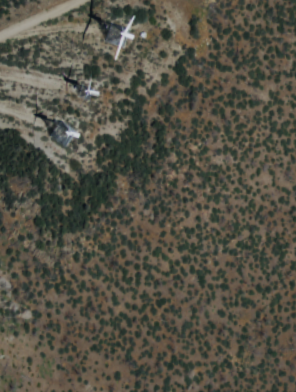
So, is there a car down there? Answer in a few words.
No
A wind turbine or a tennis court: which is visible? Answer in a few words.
wind turbine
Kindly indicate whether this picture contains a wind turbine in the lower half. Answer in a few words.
No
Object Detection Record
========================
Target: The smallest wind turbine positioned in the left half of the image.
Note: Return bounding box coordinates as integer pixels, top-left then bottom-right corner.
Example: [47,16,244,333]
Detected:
[76,76,98,116]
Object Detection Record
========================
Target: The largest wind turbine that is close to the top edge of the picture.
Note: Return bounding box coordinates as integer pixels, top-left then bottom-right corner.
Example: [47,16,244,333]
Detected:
[105,14,135,60]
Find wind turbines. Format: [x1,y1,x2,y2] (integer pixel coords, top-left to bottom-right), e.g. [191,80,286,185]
[76,76,98,116]
[48,120,78,158]
[105,14,135,60]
